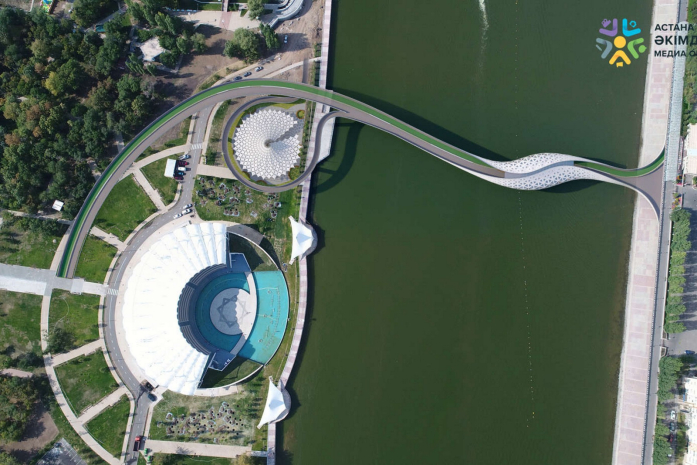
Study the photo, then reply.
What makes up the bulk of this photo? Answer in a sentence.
For the most part, this view shows water.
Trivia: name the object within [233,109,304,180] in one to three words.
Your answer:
building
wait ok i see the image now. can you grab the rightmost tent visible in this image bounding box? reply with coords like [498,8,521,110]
[290,216,316,264]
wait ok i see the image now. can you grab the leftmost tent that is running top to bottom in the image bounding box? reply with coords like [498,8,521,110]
[257,375,289,428]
